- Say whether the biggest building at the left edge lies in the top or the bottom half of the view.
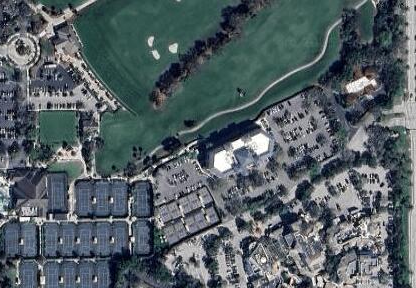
bottom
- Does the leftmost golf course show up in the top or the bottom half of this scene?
top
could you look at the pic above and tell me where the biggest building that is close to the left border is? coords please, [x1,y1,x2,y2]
[7,165,52,216]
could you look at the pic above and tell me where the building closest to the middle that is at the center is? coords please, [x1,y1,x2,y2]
[209,127,270,173]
